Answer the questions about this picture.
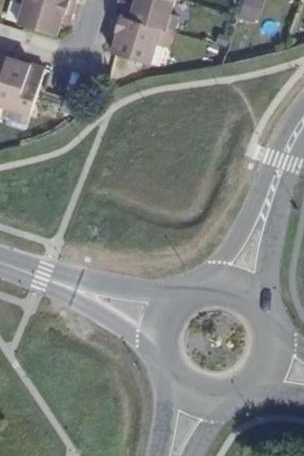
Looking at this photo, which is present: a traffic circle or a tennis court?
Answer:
traffic circle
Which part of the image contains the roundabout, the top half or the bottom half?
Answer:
bottom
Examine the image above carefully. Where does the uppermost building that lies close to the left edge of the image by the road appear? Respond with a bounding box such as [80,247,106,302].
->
[10,0,76,36]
